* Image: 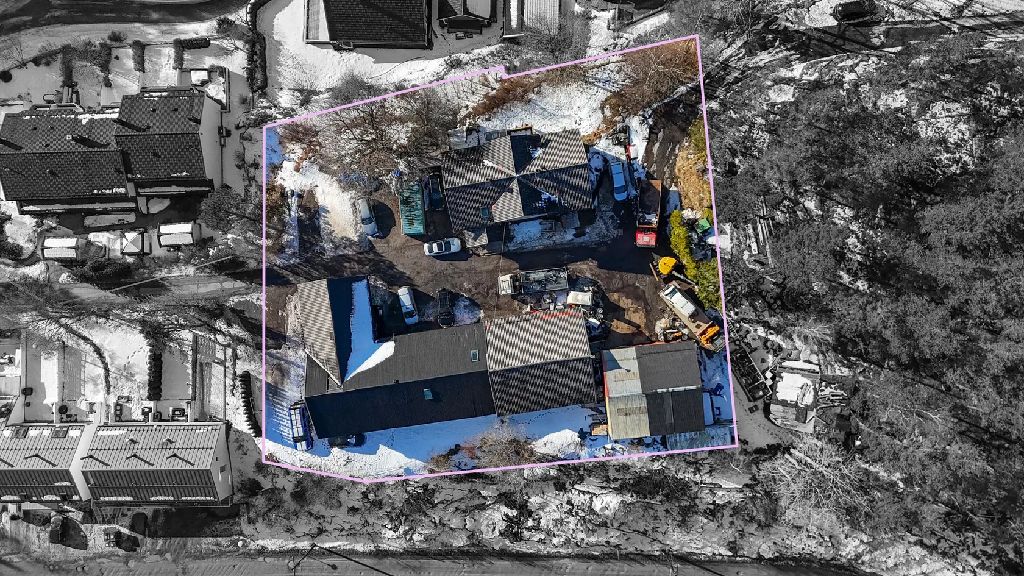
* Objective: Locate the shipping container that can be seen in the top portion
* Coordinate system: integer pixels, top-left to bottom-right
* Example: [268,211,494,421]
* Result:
[402,183,428,235]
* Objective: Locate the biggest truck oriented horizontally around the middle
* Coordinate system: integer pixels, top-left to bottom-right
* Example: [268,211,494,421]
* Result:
[496,265,569,299]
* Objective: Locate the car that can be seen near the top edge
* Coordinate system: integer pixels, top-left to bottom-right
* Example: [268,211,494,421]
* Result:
[832,0,875,22]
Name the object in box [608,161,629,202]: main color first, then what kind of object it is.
blue car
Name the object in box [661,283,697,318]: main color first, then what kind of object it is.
white car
